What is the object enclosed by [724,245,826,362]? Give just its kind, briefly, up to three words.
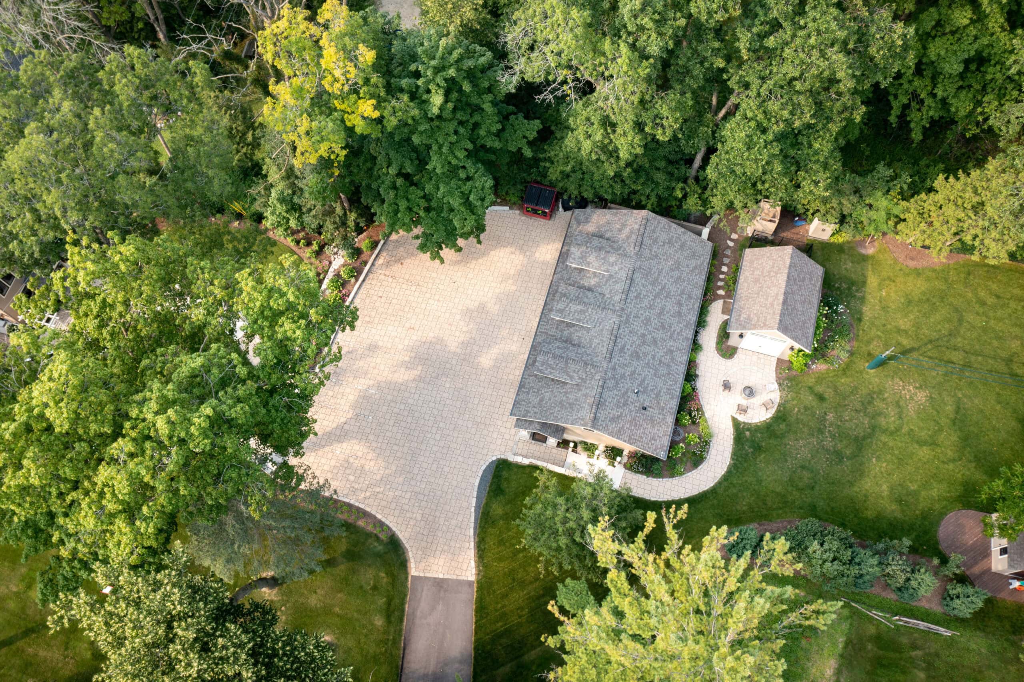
shed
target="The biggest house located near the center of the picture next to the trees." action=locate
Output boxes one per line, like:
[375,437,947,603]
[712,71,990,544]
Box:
[509,209,715,461]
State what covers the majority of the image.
trees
